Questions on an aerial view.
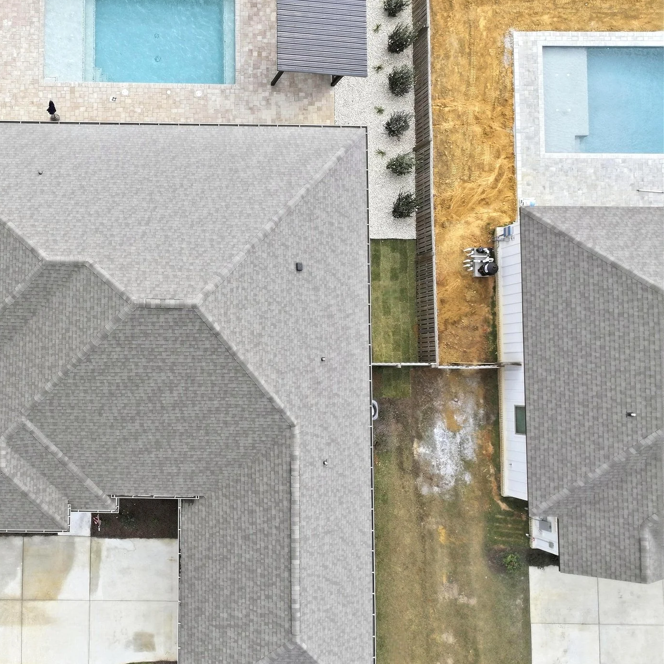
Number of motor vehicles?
zero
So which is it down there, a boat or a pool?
pool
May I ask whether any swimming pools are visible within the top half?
Yes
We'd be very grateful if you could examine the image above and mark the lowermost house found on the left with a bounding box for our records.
[0,122,375,664]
